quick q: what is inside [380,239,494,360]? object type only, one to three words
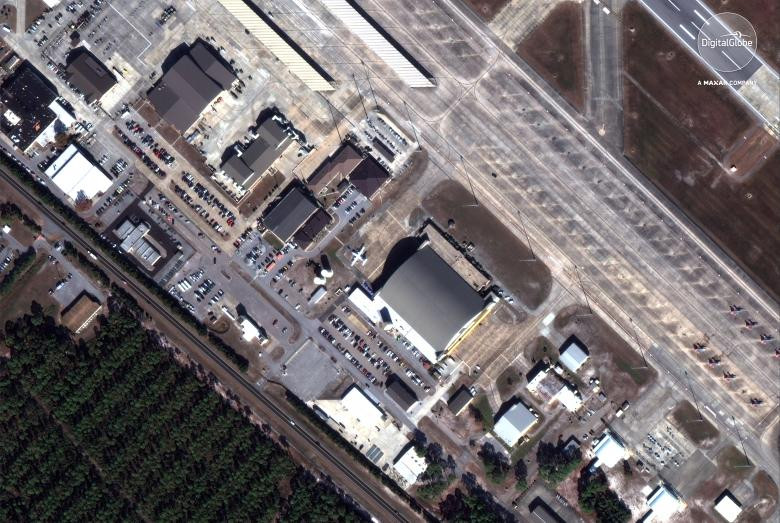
hangar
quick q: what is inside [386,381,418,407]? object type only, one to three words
shed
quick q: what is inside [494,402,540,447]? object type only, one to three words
building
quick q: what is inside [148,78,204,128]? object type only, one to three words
hangar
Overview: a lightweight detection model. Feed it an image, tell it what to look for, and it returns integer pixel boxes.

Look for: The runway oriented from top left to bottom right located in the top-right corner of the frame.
[635,0,780,139]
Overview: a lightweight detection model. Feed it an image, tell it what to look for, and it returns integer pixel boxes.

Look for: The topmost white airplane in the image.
[350,245,366,266]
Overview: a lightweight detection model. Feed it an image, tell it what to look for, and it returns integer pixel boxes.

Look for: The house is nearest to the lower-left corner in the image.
[62,295,102,333]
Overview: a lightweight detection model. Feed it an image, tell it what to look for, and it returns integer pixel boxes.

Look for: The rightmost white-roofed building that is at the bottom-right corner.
[715,496,743,522]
